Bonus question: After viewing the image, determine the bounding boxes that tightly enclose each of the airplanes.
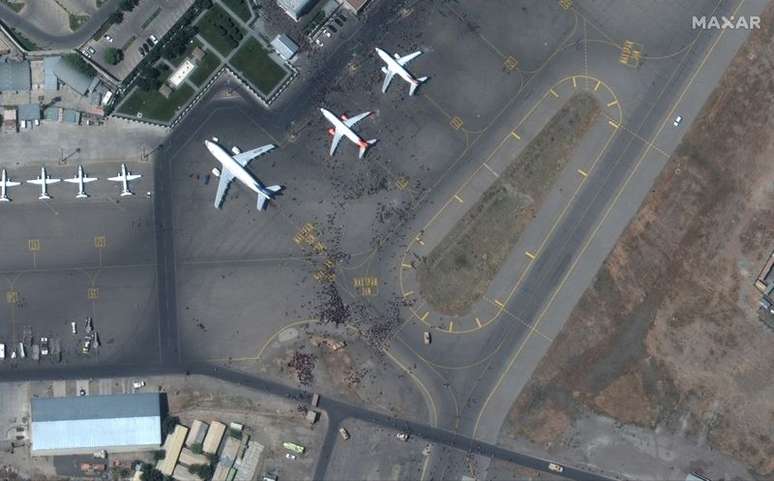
[321,109,376,155]
[205,140,284,210]
[0,169,21,199]
[27,168,60,197]
[107,163,141,194]
[64,166,98,195]
[375,48,429,95]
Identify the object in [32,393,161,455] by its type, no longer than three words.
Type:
hangar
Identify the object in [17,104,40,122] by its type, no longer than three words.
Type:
building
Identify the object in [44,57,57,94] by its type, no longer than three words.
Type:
building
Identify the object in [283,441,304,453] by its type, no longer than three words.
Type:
vehicle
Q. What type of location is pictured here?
airport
